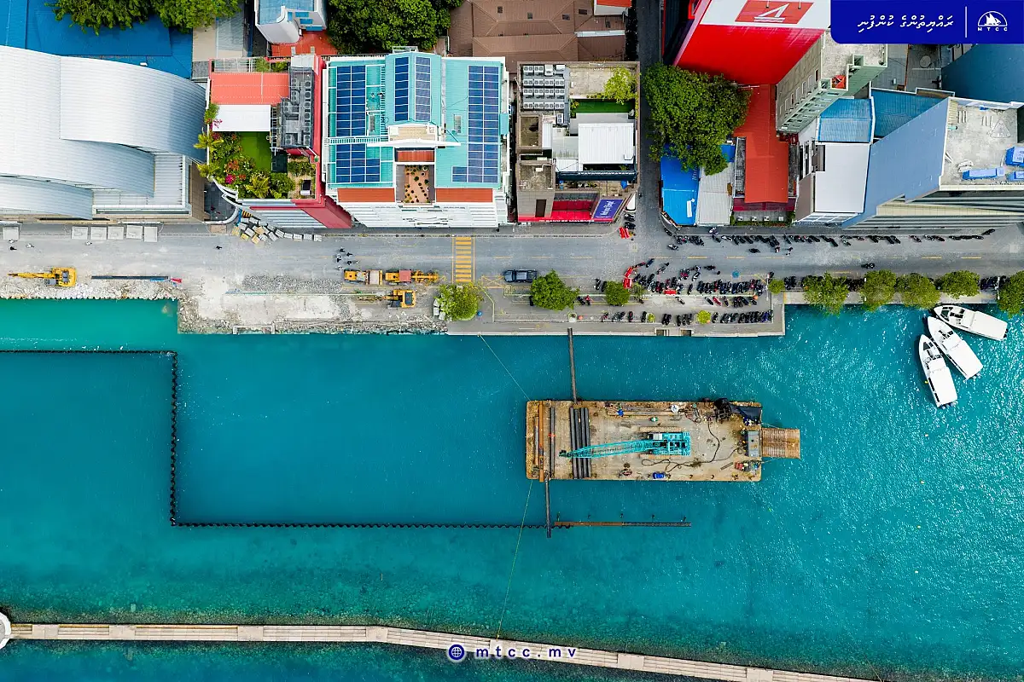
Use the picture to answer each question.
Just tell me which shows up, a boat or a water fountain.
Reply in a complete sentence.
The one in the frame is a boat.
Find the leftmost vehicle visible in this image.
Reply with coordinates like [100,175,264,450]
[12,267,73,286]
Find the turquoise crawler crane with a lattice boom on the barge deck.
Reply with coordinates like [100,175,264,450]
[554,431,696,459]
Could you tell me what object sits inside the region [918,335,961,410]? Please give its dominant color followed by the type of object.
white boat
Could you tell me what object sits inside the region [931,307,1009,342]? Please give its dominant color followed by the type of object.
white boat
